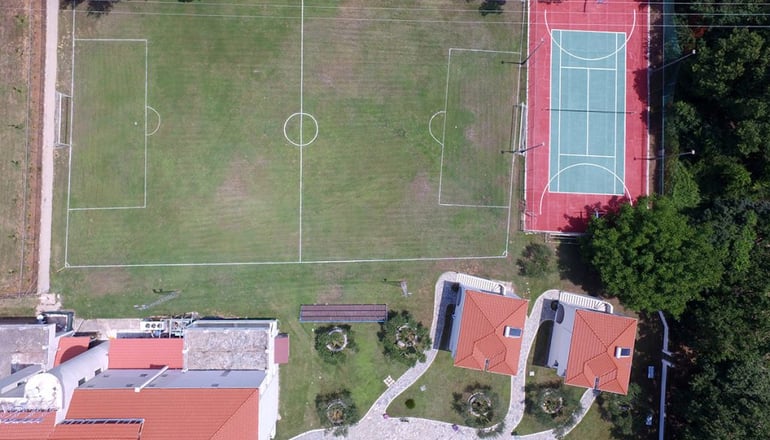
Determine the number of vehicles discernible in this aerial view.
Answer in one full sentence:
The count of vehicles is 0.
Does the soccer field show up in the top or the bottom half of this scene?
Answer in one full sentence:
The top half of the photo is where the soccer field is.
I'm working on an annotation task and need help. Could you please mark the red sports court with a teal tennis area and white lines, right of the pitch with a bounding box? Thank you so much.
[526,0,652,238]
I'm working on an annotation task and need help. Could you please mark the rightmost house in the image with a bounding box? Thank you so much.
[549,290,639,394]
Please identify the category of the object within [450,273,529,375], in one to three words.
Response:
house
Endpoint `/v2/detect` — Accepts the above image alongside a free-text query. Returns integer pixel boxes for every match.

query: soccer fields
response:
[65,0,526,266]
